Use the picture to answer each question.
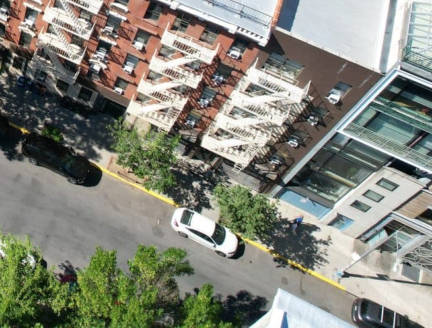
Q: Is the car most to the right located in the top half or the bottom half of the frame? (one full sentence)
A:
It is in the bottom half that the car most to the right appears.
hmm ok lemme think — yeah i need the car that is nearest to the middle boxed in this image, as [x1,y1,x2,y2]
[167,205,245,263]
